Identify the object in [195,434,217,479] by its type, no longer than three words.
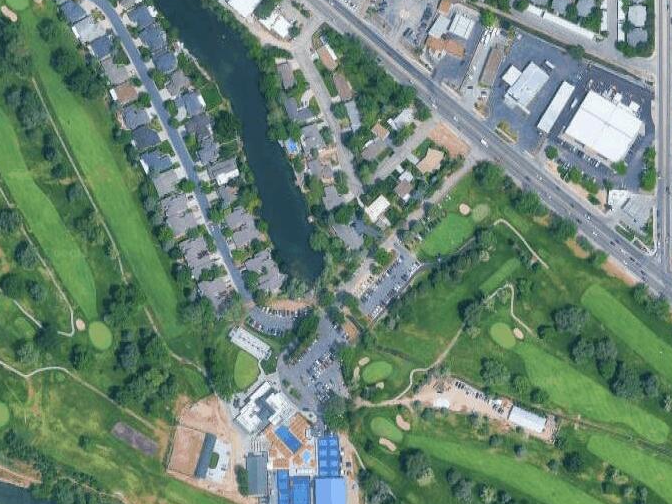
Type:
barn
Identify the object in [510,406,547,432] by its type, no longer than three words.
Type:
barn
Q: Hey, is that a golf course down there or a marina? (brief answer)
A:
golf course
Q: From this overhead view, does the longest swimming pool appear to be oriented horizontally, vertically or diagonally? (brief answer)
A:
diagonally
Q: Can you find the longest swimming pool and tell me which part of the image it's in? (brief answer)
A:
bottom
